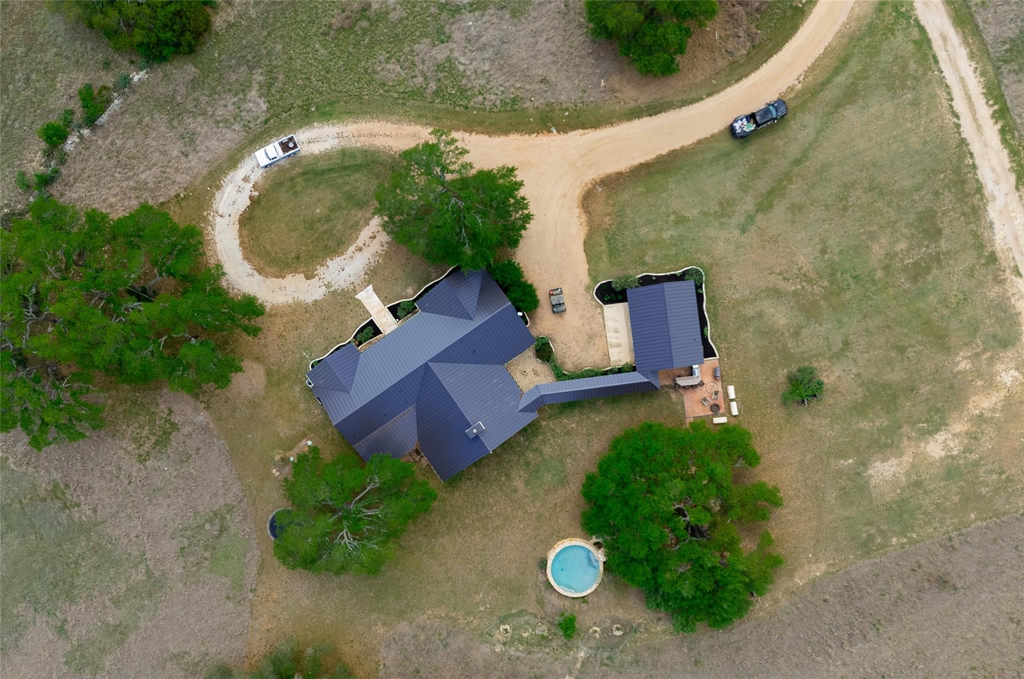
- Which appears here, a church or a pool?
pool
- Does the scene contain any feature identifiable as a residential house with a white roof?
No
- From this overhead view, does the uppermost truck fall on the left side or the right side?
right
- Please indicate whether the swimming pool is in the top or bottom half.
bottom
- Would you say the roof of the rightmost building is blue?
Yes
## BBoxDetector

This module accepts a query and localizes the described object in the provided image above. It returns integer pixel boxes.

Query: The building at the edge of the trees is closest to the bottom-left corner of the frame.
[304,266,539,481]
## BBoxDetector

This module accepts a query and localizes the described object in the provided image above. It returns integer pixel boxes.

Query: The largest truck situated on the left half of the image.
[252,132,299,166]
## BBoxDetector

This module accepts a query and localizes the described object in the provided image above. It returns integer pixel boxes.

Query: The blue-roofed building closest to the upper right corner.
[627,280,703,371]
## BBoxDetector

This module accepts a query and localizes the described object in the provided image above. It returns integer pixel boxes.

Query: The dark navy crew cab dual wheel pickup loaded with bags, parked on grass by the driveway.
[731,97,789,136]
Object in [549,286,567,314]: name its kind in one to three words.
vehicle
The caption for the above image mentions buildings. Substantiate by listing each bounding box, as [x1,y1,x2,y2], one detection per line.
[304,266,539,481]
[627,280,703,371]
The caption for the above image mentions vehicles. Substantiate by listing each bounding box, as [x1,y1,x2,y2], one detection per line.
[731,97,789,136]
[252,132,299,166]
[549,286,567,314]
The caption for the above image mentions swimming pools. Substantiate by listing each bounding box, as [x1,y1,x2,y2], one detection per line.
[546,536,604,596]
